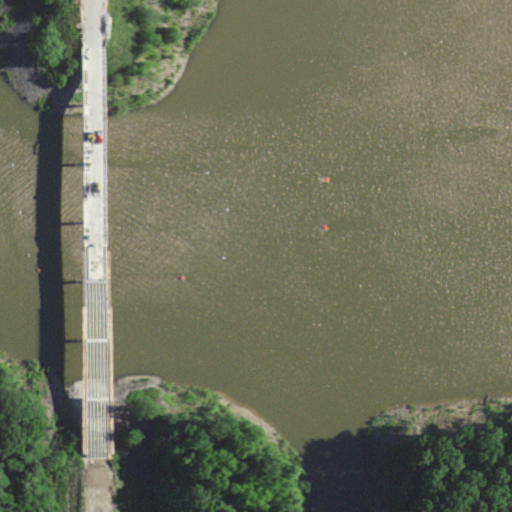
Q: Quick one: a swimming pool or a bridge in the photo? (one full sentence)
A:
It is a bridge that can be seen here.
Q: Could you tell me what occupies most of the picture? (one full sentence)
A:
For the most part, this view shows water.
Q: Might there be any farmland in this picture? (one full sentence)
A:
No, the picture contains no farmland.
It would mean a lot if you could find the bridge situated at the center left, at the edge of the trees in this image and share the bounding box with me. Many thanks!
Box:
[82,44,113,470]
